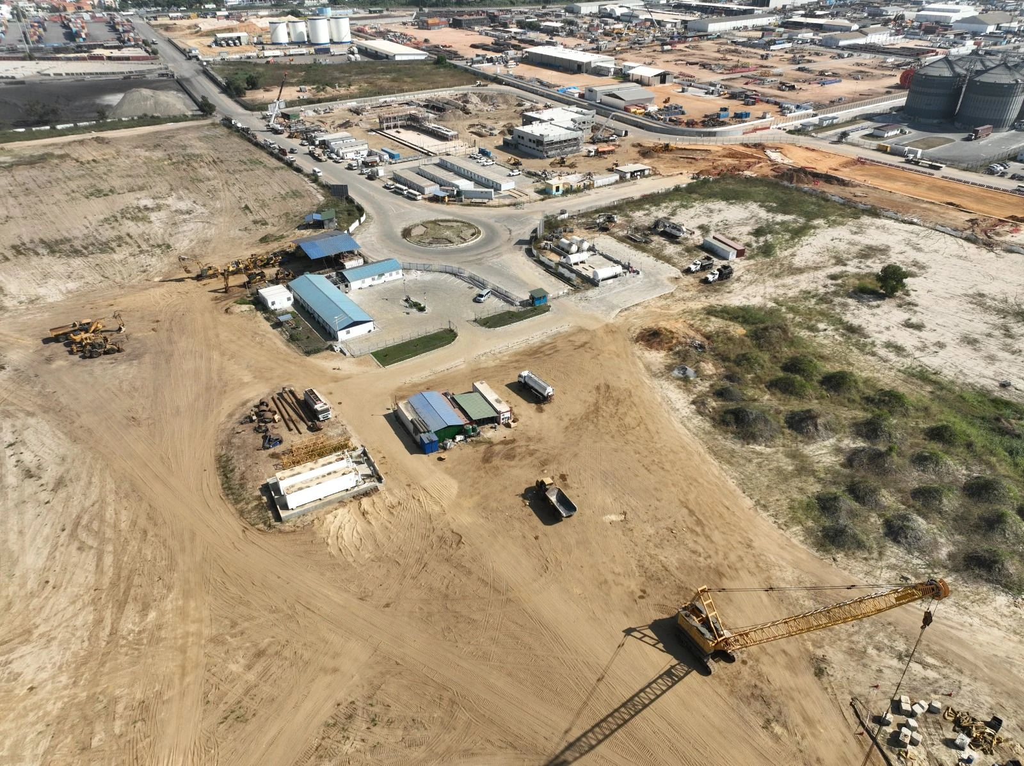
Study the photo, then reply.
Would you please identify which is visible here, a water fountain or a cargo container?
cargo container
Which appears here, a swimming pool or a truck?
truck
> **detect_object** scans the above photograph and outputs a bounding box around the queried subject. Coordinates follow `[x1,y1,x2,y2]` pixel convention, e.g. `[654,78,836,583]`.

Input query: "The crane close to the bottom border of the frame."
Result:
[669,576,957,766]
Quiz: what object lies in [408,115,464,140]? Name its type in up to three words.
building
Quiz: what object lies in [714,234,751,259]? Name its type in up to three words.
shipping container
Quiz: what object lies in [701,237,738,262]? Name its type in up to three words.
shipping container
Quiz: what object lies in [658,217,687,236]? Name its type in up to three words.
vehicle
